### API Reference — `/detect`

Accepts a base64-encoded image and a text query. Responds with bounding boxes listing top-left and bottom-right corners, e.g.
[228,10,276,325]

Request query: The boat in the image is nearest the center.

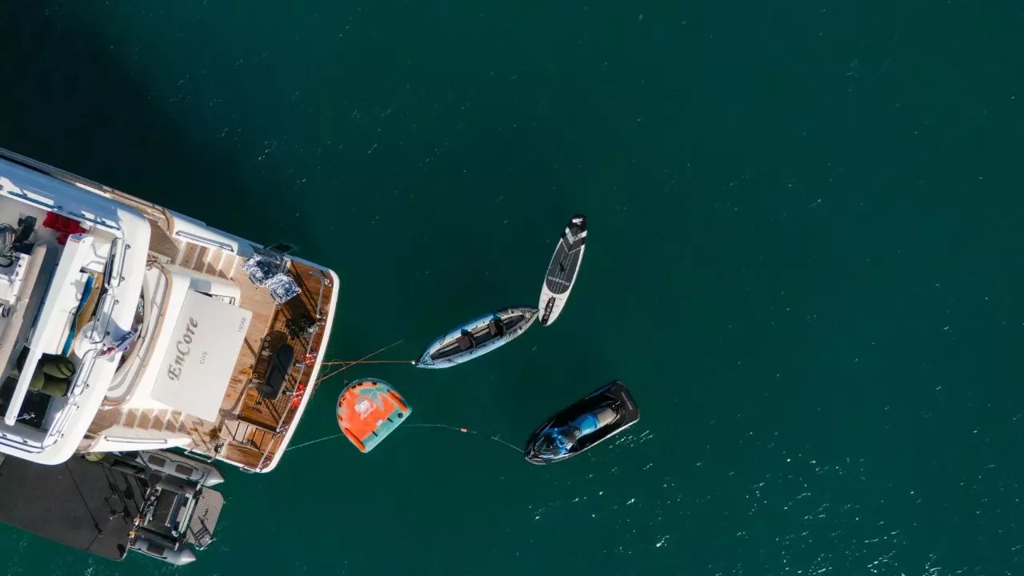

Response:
[412,309,538,368]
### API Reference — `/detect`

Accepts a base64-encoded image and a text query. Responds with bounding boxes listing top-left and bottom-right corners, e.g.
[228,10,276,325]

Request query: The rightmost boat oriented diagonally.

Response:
[529,385,638,467]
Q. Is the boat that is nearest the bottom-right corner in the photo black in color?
Yes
